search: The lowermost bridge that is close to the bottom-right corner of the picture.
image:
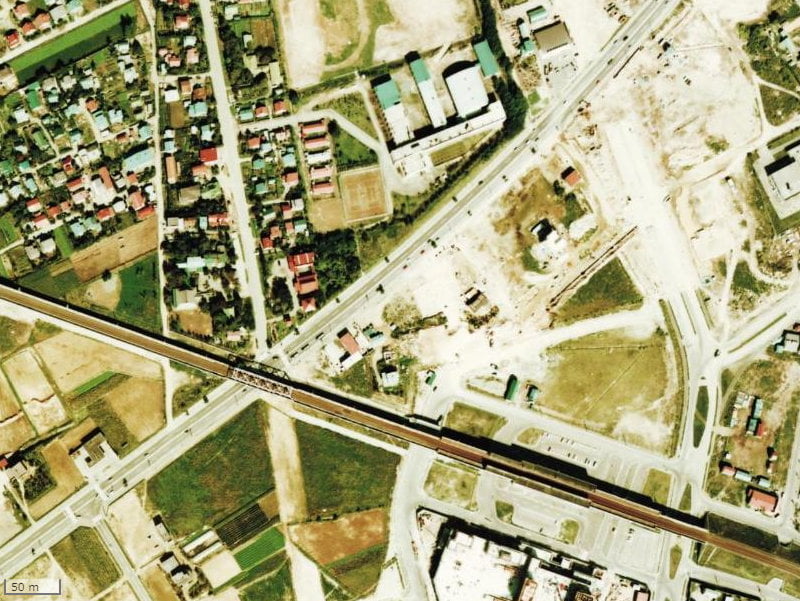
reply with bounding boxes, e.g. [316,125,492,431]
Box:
[659,514,711,546]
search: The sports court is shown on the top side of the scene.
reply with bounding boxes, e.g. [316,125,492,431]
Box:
[338,165,391,224]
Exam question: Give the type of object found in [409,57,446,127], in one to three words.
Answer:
building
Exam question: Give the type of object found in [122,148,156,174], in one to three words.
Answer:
house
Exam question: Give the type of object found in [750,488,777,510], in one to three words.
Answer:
house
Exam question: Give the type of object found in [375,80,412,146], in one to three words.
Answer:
building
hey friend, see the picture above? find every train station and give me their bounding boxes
[438,432,666,531]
